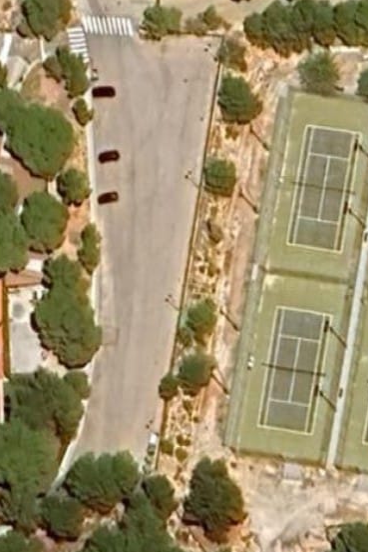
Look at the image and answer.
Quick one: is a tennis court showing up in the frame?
Yes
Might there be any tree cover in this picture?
Yes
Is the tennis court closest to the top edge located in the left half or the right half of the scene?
right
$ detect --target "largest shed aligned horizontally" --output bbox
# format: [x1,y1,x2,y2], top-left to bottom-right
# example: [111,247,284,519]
[5,272,41,291]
